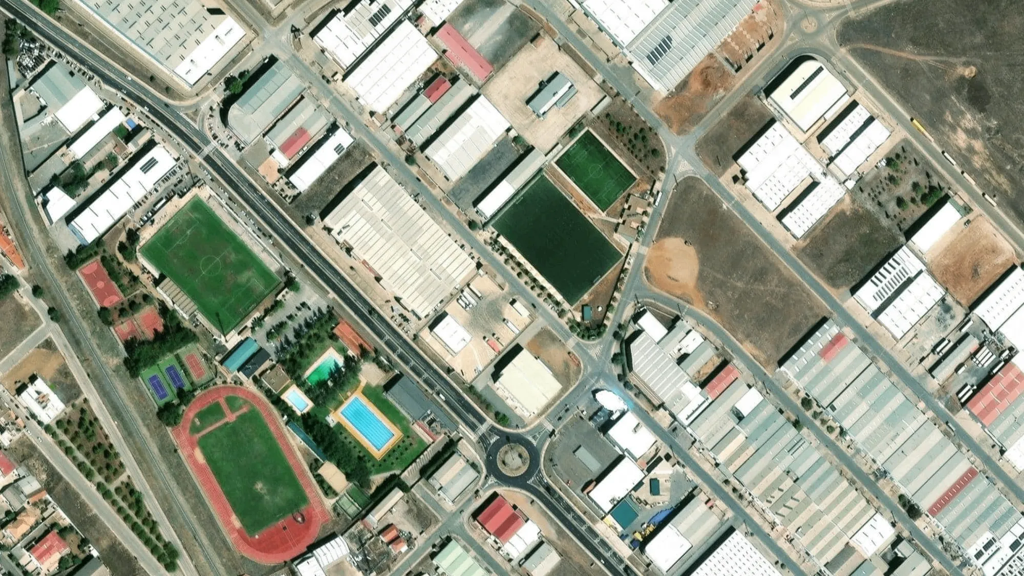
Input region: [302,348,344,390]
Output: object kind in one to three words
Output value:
swimming pool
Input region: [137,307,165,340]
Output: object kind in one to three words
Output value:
sports court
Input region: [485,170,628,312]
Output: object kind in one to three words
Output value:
soccer field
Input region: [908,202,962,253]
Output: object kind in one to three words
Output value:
building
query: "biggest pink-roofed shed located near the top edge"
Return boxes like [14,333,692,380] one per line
[434,23,493,82]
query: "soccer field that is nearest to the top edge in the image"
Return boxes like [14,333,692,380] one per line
[550,126,641,215]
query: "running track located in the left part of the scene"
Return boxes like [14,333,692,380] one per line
[171,384,329,565]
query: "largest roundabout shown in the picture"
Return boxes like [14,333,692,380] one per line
[486,433,539,486]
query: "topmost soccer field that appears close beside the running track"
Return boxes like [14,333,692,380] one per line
[132,187,286,340]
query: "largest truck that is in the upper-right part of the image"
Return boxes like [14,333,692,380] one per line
[912,119,936,144]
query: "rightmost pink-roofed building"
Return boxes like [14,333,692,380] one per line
[965,363,1024,428]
